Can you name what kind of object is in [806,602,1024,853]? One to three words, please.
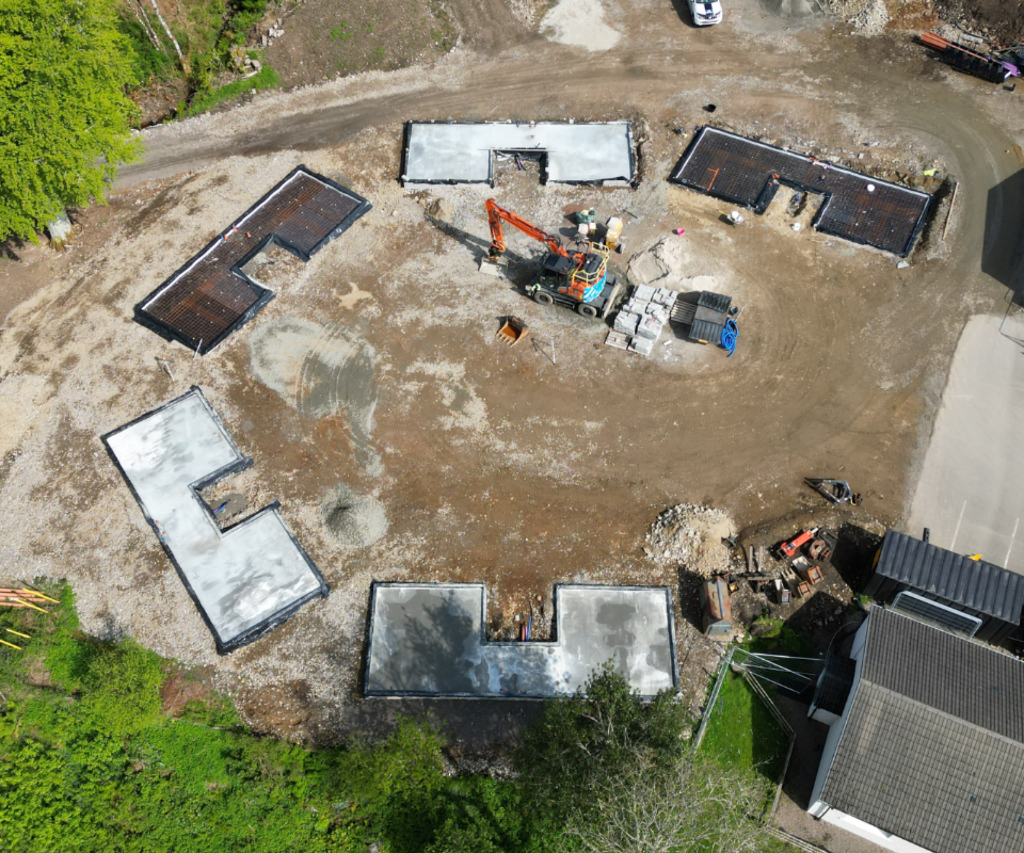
house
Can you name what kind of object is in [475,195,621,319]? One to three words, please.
work vehicle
